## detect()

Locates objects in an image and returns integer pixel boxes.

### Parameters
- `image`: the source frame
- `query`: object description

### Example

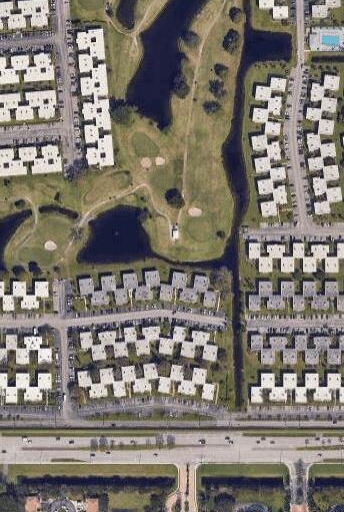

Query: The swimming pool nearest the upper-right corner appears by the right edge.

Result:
[311,27,344,51]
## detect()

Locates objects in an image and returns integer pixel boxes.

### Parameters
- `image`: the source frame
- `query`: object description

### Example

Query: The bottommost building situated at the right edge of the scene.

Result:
[251,372,344,403]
